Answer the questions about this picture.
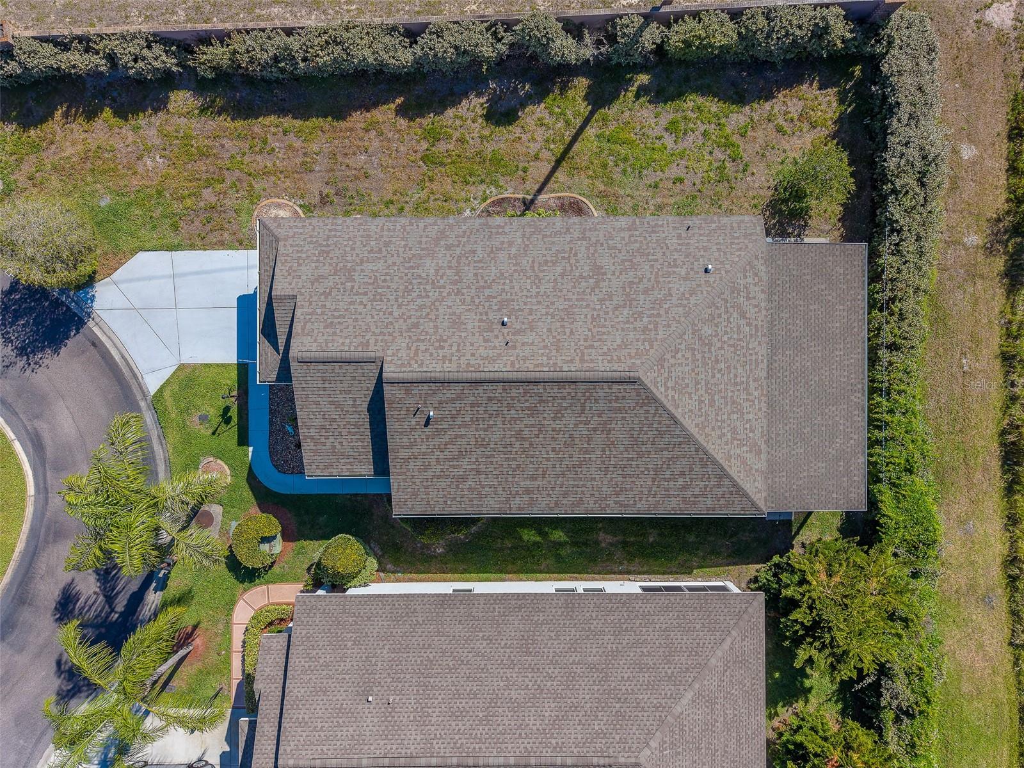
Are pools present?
No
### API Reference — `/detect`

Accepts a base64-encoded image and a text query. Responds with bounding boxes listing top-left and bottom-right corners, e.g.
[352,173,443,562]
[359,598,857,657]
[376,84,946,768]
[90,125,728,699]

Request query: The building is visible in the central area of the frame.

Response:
[257,214,868,517]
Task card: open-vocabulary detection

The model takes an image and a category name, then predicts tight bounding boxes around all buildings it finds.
[257,214,868,517]
[236,582,767,768]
